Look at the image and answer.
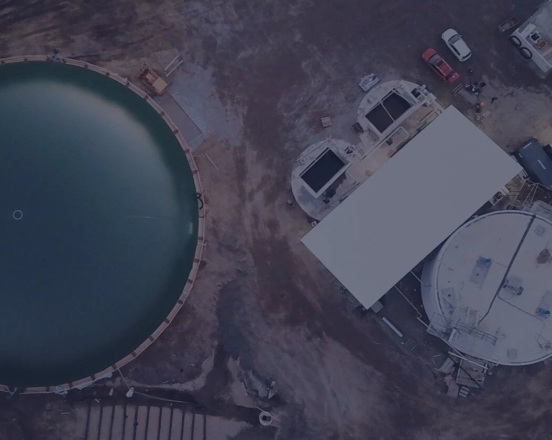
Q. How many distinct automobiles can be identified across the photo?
2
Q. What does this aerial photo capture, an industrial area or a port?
industrial area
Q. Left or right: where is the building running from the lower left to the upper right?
right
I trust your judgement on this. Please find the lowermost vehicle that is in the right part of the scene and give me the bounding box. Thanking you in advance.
[419,47,461,87]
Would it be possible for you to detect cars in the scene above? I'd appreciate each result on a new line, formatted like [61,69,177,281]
[437,27,475,66]
[419,47,461,87]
